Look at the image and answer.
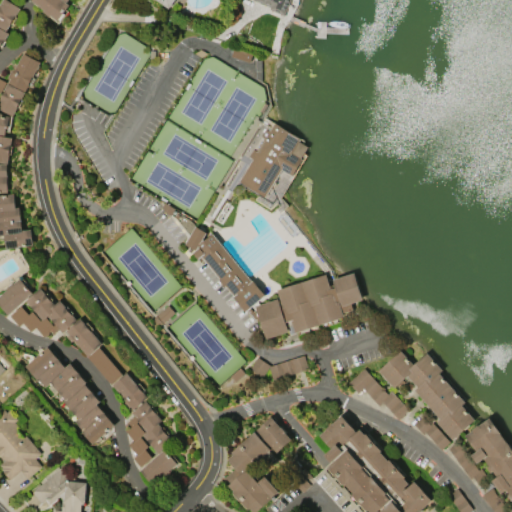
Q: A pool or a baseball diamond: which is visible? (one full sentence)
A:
Looking from above, you can make out a pool.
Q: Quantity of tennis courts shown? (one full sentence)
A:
Altogether the scene contains 7 tennis courts.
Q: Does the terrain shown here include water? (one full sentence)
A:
Yes, water shows up in the scene.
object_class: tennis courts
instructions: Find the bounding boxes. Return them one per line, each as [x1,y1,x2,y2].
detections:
[150,120,234,190]
[170,304,246,384]
[198,72,266,159]
[84,33,150,114]
[106,230,182,311]
[133,151,214,219]
[169,57,240,138]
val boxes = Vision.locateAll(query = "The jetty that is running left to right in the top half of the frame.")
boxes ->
[292,16,350,40]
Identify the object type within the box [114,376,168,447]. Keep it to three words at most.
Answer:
house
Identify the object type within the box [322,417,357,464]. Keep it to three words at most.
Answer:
house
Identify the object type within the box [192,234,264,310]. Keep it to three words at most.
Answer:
building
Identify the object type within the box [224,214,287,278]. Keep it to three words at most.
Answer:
swimming pool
